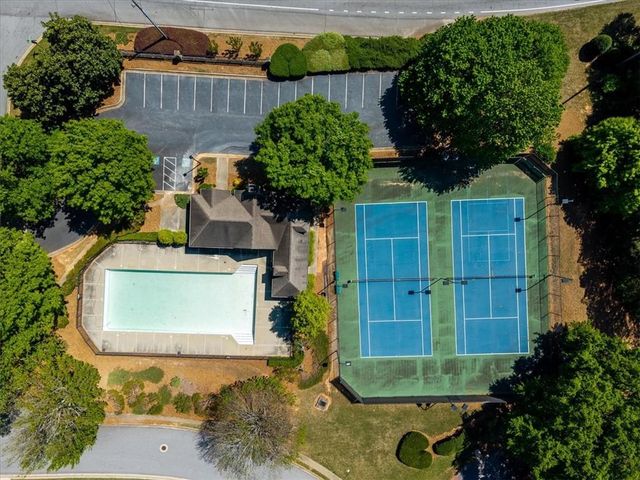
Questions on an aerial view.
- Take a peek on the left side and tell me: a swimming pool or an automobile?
swimming pool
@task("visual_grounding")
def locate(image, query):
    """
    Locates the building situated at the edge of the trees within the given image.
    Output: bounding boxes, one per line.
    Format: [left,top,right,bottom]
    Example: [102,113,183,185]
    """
[190,189,309,298]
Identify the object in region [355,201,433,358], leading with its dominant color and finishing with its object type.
blue tennis court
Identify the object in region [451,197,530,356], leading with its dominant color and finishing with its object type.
blue tennis court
